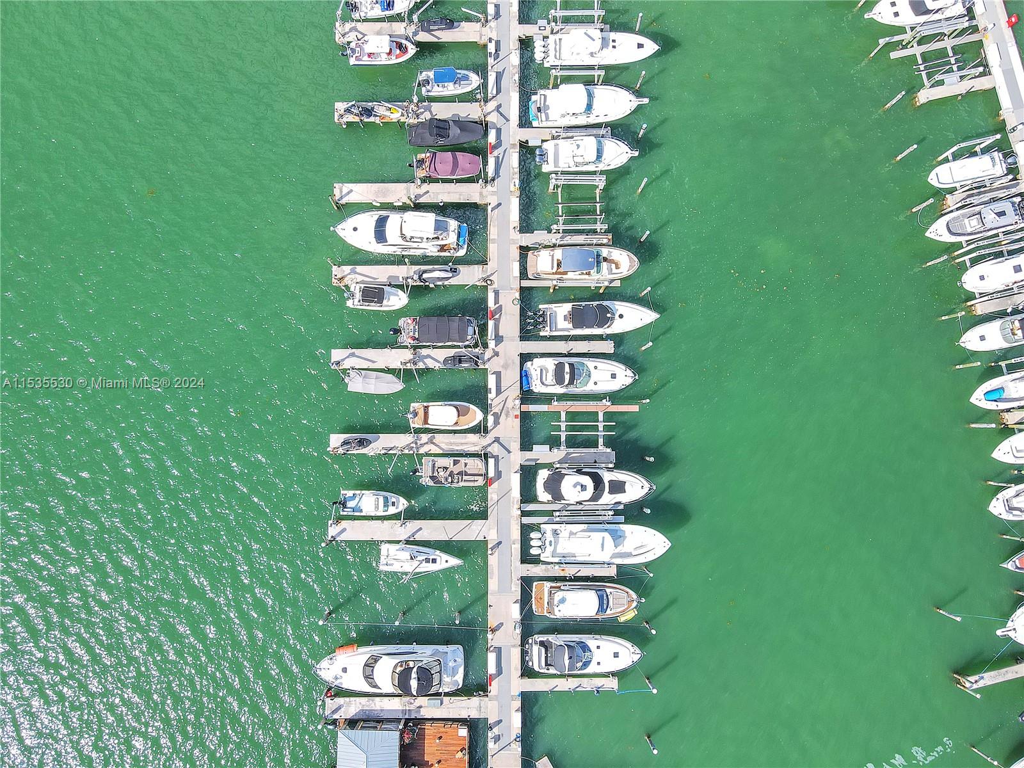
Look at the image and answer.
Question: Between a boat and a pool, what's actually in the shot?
boat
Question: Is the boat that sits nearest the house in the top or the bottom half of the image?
bottom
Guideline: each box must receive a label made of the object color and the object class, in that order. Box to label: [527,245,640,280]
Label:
white boat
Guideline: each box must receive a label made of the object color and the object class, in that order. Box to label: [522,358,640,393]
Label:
white boat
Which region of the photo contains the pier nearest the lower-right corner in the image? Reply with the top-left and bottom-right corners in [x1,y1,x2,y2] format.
[961,661,1024,690]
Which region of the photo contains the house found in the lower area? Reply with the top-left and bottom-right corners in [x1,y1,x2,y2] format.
[337,719,405,768]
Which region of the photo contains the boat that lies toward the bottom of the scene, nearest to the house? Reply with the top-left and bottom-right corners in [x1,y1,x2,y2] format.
[308,639,464,697]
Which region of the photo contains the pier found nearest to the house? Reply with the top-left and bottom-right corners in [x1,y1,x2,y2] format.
[326,692,488,719]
